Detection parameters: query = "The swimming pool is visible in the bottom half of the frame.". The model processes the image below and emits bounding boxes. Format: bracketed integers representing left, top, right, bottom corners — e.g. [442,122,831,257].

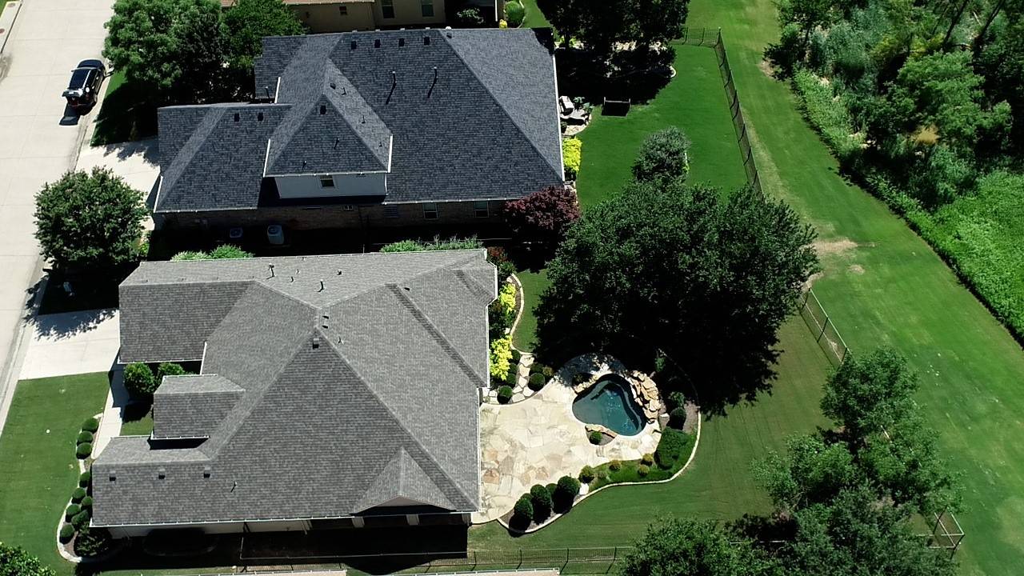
[568,369,651,441]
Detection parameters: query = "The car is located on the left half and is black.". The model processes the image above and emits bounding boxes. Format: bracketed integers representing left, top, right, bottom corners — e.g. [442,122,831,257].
[58,62,107,112]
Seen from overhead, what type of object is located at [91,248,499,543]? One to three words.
house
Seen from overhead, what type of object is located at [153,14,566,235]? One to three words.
house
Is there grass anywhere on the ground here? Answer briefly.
Yes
